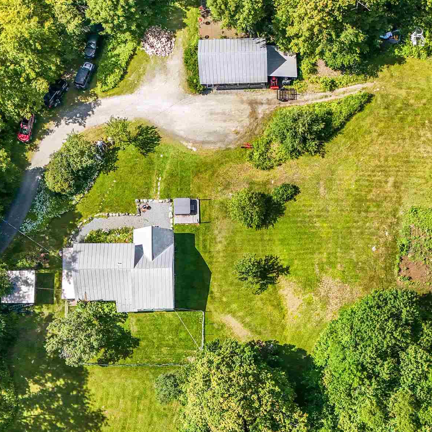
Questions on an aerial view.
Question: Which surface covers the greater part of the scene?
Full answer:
The bulk of the photo consists of grass.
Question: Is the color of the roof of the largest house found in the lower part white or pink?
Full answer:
The roof of the largest house found in the lower part looks white in the image.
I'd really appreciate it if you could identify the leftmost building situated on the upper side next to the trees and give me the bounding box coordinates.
[198,39,267,92]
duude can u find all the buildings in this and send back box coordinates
[198,39,267,92]
[62,225,176,312]
[1,271,40,303]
